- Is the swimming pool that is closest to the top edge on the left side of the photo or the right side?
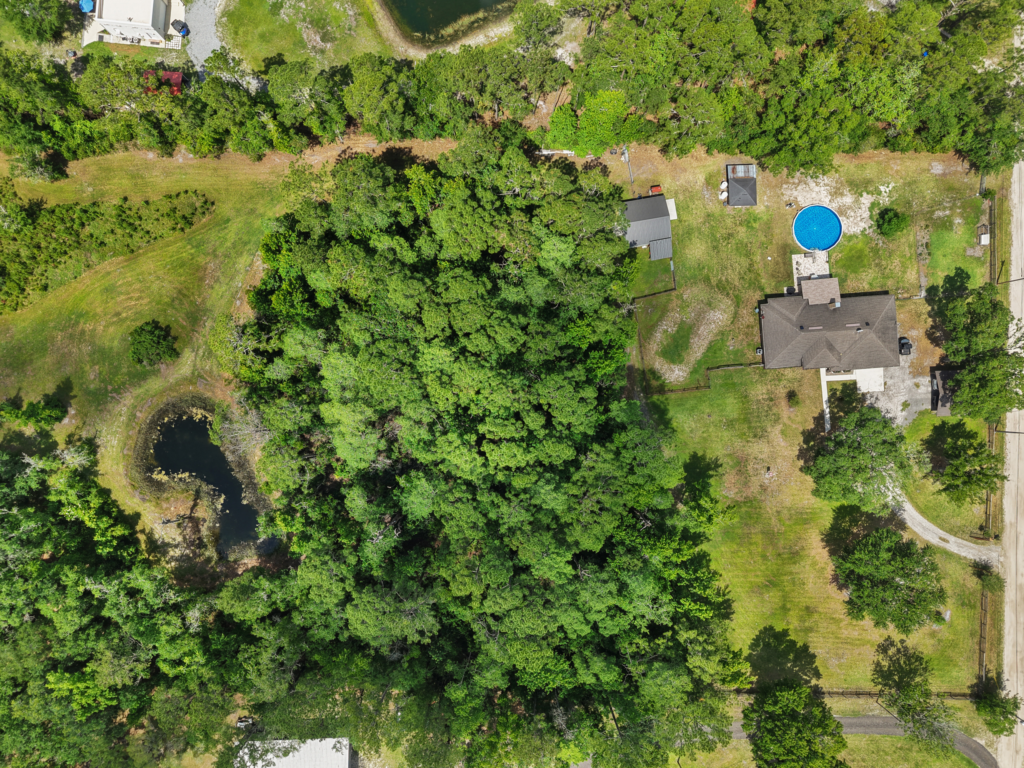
right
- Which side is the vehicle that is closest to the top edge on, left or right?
left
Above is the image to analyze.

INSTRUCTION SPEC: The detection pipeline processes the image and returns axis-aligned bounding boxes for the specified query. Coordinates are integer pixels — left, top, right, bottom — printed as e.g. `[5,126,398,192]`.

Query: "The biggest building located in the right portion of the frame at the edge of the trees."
[759,278,900,371]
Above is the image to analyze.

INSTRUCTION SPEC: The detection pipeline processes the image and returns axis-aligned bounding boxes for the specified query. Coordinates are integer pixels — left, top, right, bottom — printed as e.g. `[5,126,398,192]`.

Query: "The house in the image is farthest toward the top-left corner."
[95,0,167,48]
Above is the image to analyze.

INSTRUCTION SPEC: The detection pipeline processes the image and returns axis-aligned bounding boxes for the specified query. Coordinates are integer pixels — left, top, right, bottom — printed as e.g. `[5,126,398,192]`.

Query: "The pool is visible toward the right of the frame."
[790,203,843,255]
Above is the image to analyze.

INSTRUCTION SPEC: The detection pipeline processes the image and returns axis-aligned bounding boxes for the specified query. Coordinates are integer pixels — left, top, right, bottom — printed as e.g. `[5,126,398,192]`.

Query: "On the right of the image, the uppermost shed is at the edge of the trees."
[725,165,757,208]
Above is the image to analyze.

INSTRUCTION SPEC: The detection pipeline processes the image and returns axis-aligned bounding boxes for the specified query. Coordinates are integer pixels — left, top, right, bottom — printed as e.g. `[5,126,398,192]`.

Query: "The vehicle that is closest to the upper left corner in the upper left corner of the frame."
[169,17,193,41]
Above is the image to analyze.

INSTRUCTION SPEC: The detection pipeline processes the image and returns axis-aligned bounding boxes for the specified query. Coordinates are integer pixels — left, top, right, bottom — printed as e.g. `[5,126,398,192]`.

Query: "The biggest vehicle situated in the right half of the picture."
[898,336,915,357]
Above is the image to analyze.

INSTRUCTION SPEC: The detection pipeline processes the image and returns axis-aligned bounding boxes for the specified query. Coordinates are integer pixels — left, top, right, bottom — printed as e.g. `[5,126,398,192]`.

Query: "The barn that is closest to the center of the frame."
[605,195,673,261]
